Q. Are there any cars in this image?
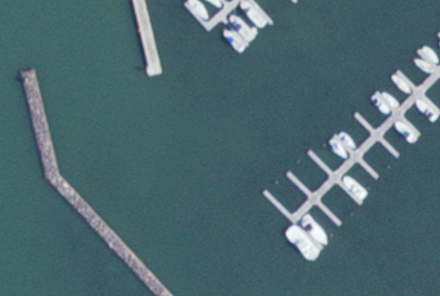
No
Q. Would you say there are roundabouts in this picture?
No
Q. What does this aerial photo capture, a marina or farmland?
marina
